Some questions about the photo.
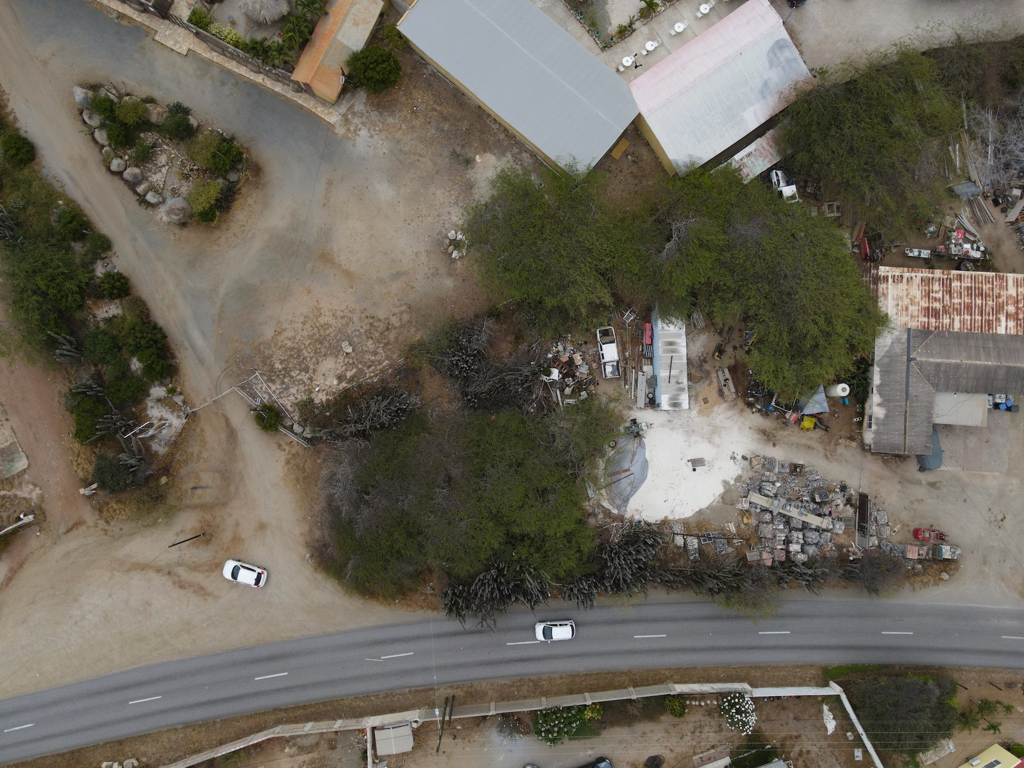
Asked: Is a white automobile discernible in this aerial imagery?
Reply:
Yes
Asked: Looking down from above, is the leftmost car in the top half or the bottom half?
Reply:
bottom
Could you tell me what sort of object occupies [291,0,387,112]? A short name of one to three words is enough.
shed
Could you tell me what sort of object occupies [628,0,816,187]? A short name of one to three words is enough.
building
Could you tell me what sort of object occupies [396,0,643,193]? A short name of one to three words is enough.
warehouse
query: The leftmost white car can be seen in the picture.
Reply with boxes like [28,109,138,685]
[224,559,269,588]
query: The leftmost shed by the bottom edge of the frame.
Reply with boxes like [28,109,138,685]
[375,721,416,756]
